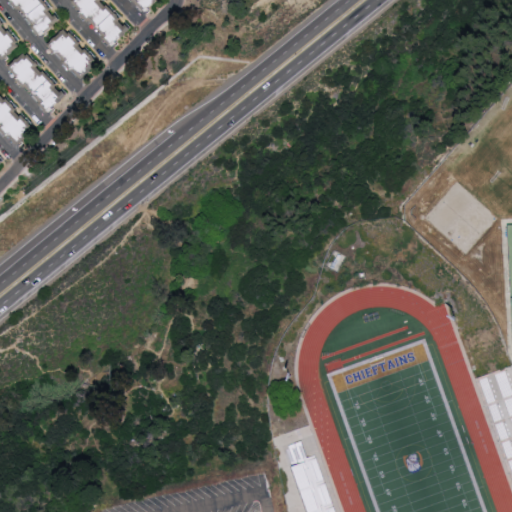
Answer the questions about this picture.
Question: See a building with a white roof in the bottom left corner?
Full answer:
No, no building with a white roof is visible in the bottom left corner.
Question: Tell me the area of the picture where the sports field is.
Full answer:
The sports field is in the bottom right part of the image.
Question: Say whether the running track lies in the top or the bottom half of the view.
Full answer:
The running track sits in the bottom half of the picture.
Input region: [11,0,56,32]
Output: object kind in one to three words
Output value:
house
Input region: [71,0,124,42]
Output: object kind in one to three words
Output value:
house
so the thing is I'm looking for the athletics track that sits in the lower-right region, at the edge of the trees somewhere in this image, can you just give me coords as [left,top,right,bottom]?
[299,286,512,512]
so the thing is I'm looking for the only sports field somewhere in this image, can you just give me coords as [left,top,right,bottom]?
[320,307,496,512]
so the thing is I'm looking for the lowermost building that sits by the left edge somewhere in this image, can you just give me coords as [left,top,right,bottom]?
[0,94,30,139]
